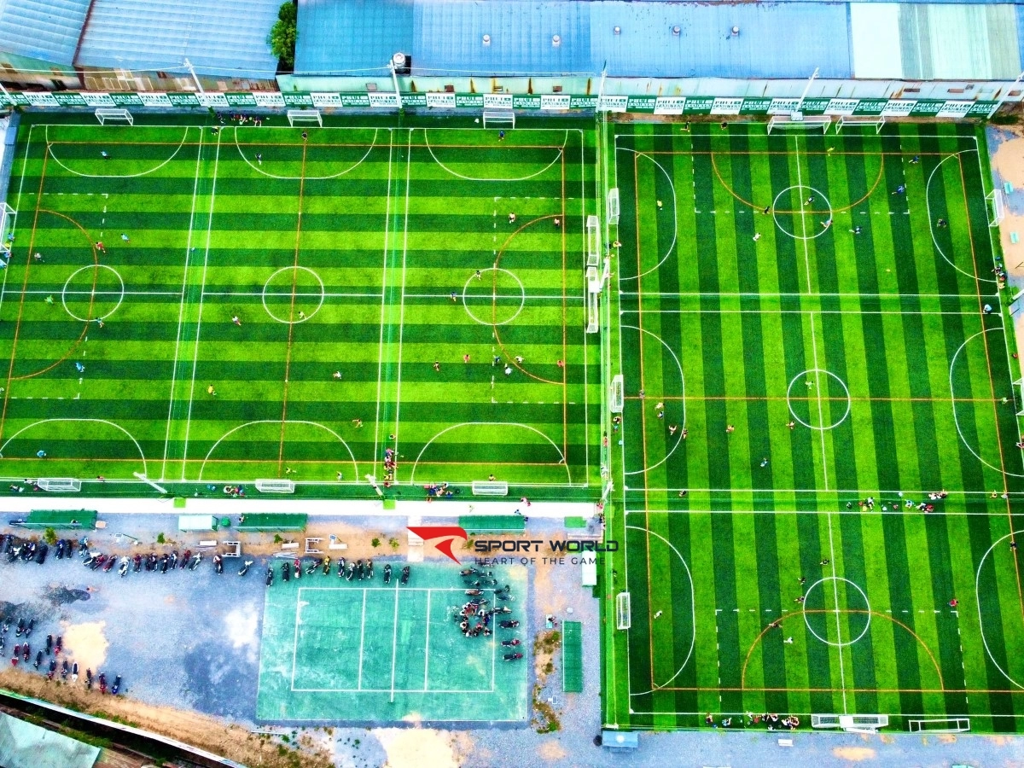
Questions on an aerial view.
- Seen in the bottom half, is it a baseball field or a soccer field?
soccer field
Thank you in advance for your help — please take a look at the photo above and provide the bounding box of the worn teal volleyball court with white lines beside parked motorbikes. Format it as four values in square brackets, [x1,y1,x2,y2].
[258,560,528,722]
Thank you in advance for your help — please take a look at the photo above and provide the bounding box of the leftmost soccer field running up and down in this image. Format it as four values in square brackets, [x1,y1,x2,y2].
[0,124,202,481]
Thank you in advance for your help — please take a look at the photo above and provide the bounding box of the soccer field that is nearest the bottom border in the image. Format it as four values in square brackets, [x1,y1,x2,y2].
[625,511,1024,716]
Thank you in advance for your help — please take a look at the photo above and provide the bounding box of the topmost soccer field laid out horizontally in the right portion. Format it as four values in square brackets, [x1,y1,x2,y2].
[615,135,1000,296]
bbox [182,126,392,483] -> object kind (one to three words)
soccer field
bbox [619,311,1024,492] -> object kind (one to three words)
soccer field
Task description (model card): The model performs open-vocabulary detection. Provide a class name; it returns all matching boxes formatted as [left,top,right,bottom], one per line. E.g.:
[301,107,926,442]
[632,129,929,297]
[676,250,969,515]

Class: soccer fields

[0,128,581,481]
[615,135,1000,296]
[619,311,1024,492]
[0,124,202,481]
[626,138,1024,712]
[394,128,587,485]
[625,511,1024,716]
[182,126,392,483]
